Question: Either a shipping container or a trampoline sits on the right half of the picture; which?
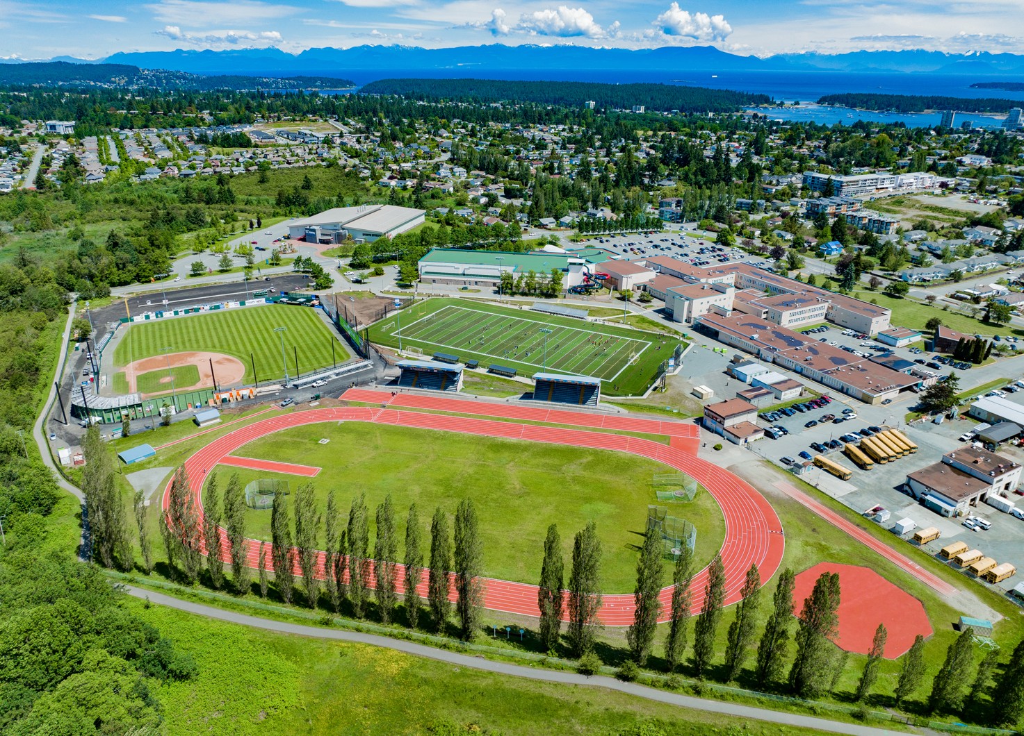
shipping container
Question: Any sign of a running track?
Yes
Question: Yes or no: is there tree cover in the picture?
Yes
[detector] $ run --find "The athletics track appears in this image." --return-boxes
[162,406,766,625]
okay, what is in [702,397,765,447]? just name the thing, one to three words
building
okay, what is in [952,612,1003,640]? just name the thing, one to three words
shipping container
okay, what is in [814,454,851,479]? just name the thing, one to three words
bus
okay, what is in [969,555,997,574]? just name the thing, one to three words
vehicle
